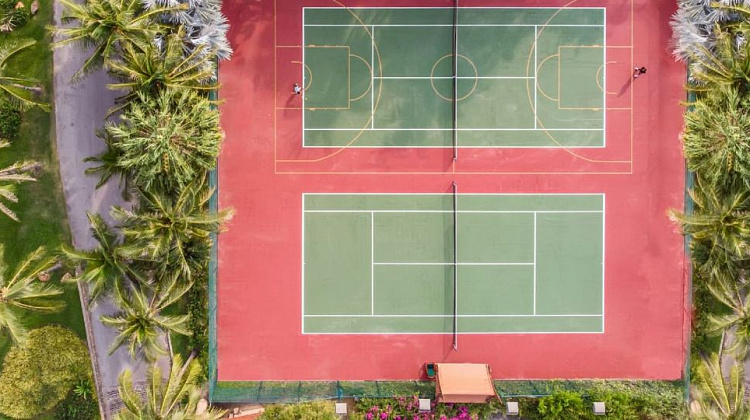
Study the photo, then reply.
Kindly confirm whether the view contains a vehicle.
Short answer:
No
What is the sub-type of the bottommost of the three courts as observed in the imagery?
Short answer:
tennis court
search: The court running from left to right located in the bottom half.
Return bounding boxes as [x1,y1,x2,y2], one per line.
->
[302,194,605,334]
